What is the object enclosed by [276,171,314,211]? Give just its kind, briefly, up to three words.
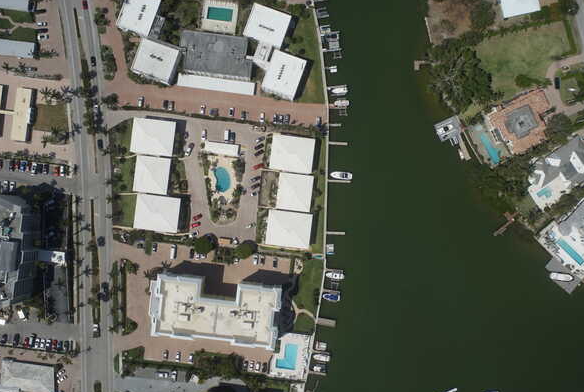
house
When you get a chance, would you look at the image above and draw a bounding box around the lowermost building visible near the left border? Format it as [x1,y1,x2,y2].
[0,357,58,392]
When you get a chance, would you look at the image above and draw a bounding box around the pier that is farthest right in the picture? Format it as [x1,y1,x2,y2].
[544,257,580,294]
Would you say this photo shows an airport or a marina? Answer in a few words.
marina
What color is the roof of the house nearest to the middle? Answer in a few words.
white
